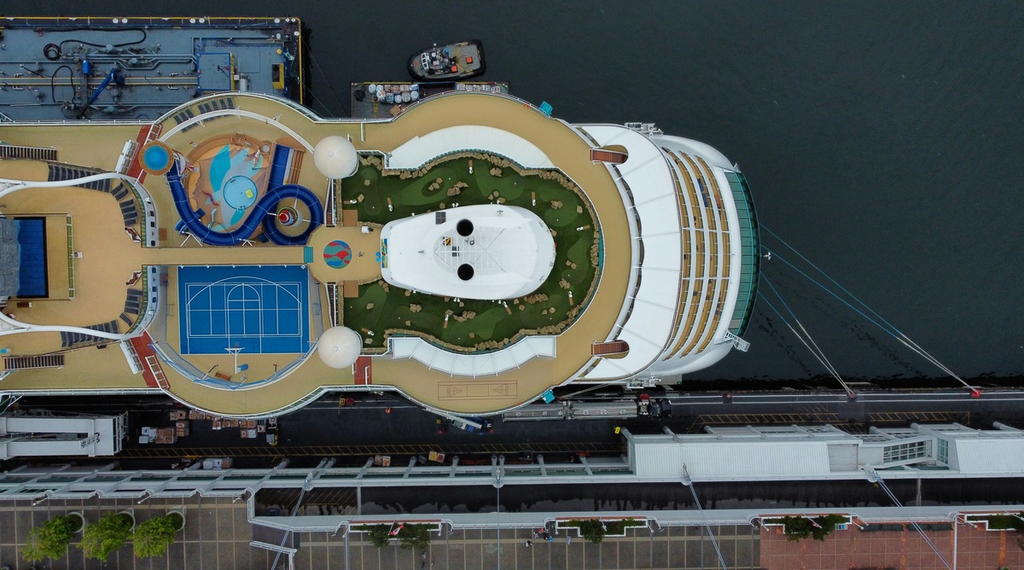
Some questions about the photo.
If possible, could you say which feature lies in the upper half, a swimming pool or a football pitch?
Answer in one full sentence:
Visible in the upper half is a swimming pool.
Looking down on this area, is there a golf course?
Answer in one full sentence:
Yes, I can see a golf course in this picture.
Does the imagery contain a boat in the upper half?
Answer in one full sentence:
Yes, in the upper half there is a boat.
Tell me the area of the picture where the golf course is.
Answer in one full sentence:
The golf course is in the center part of the image.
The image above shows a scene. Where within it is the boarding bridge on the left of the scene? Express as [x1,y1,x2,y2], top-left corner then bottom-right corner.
[0,407,140,460]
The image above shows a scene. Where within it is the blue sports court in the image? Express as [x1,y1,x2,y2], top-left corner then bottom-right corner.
[178,266,309,377]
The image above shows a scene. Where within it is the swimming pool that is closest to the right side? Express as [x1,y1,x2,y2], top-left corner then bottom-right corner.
[184,133,268,243]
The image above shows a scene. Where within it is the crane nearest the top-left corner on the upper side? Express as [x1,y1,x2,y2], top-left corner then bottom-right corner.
[77,68,123,118]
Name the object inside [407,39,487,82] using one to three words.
boat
